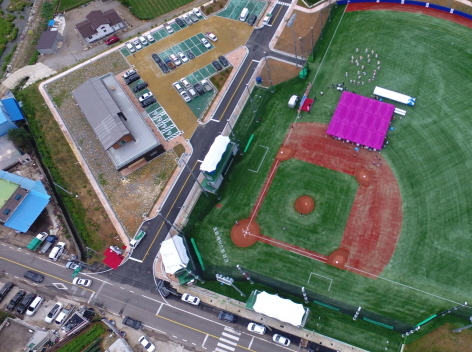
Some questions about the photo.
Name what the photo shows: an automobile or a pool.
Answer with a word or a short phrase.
automobile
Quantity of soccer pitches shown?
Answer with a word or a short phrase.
0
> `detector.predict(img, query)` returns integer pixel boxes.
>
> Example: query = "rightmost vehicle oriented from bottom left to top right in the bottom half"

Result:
[129,230,147,248]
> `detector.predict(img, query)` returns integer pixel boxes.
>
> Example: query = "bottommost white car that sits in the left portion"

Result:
[138,336,156,352]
